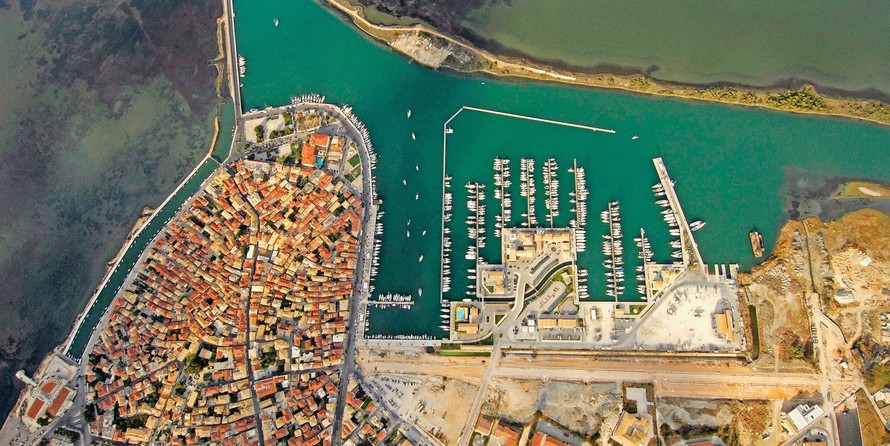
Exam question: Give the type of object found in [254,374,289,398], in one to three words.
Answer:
building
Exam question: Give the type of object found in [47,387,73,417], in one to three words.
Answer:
building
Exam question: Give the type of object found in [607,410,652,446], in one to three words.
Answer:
house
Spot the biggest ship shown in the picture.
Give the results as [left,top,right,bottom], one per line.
[750,230,762,258]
